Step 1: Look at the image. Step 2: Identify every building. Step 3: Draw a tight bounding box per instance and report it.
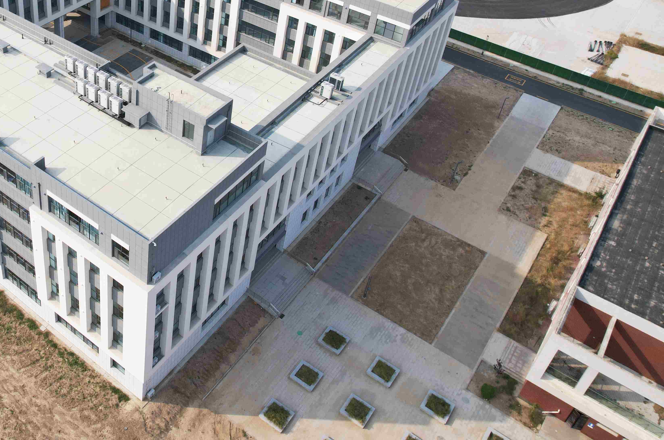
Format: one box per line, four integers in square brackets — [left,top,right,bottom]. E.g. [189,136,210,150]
[522,102,664,440]
[0,0,460,401]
